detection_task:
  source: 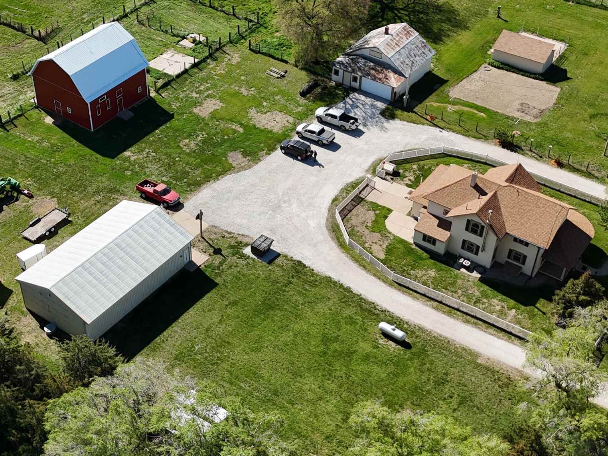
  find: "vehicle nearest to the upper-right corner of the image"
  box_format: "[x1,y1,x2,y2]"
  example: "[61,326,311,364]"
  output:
[312,108,360,132]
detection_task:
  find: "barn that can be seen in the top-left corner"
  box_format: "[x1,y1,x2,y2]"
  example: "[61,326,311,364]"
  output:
[26,20,152,130]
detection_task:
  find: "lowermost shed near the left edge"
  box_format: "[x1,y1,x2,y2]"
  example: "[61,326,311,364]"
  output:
[17,203,195,334]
